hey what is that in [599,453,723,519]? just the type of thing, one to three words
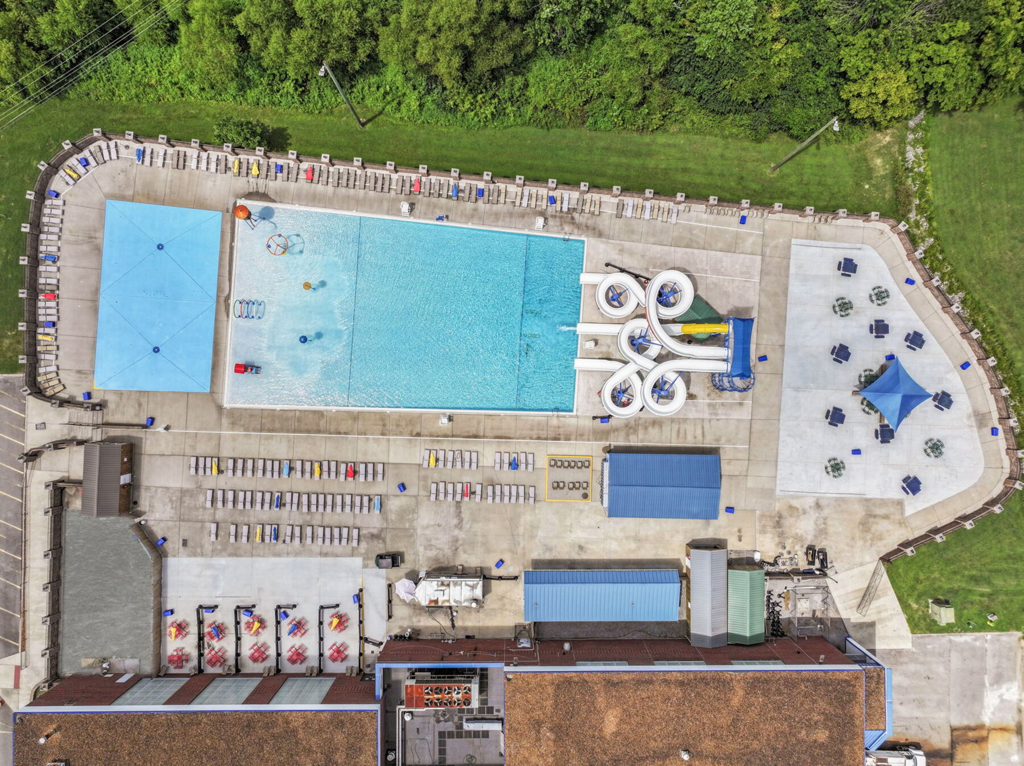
building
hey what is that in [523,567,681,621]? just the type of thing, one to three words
building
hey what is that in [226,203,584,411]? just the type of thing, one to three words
swimming pool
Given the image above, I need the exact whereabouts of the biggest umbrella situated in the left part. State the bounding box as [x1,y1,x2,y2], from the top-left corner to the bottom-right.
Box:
[394,580,416,604]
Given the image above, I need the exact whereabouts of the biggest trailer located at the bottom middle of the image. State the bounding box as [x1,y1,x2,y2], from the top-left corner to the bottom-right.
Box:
[415,573,483,608]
